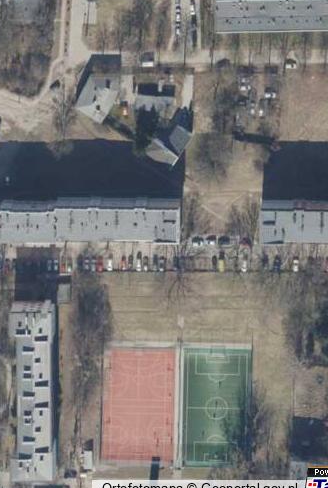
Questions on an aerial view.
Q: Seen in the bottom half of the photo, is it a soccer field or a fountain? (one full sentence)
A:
Looking in the bottom half of the photo, you will find a soccer field.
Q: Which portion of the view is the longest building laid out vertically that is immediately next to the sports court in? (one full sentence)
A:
The longest building laid out vertically that is immediately next to the sports court sits in the bottom left section of the image.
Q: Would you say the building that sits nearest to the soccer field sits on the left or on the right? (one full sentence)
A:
The building that sits nearest to the soccer field sits on the right side.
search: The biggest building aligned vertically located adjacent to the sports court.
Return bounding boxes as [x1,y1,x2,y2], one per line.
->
[8,298,59,481]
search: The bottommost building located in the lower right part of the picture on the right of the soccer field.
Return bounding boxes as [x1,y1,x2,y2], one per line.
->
[285,455,327,488]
